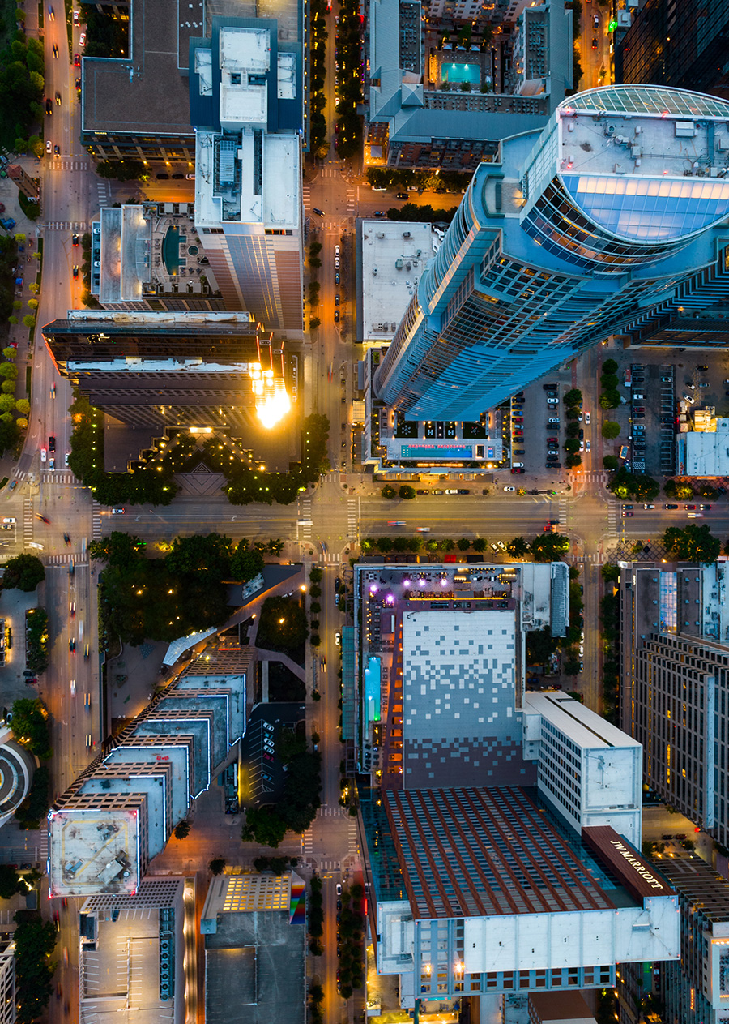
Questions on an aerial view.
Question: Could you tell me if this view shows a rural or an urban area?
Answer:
urban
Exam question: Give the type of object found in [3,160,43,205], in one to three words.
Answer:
building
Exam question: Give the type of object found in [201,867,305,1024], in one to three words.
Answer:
building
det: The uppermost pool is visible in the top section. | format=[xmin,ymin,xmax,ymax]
[441,64,480,83]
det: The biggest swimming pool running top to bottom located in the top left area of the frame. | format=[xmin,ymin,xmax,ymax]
[164,226,179,274]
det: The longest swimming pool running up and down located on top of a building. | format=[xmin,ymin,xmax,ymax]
[366,657,380,739]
